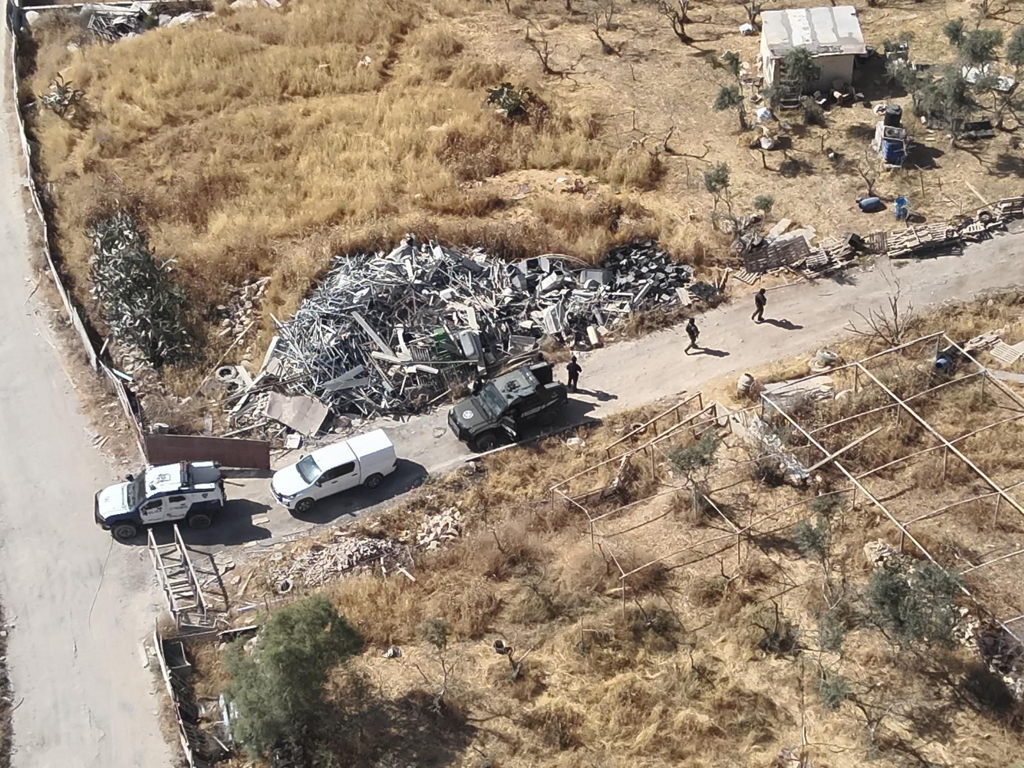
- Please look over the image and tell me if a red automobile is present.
No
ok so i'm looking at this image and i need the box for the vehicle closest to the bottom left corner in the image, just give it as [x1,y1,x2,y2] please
[89,456,226,542]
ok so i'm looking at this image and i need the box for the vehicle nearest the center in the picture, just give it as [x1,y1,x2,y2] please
[442,357,566,449]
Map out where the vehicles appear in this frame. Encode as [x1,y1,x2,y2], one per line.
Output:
[262,421,401,515]
[442,357,566,449]
[89,456,226,542]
